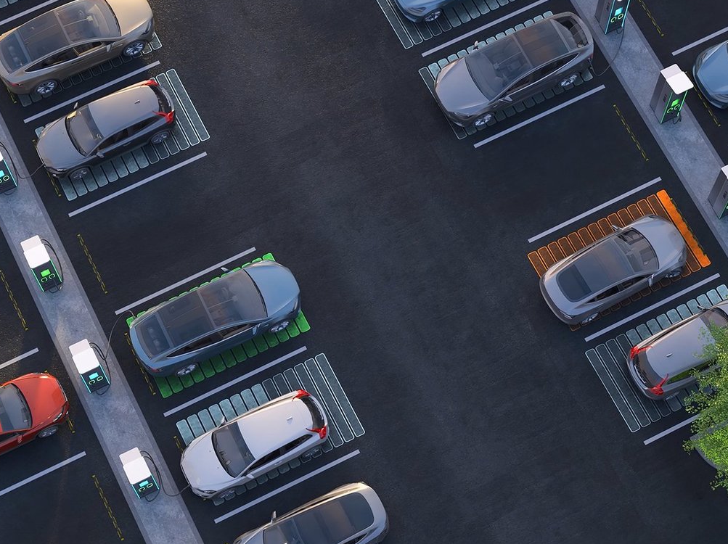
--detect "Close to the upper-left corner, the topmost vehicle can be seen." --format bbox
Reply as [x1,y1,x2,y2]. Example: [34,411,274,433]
[0,0,155,93]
